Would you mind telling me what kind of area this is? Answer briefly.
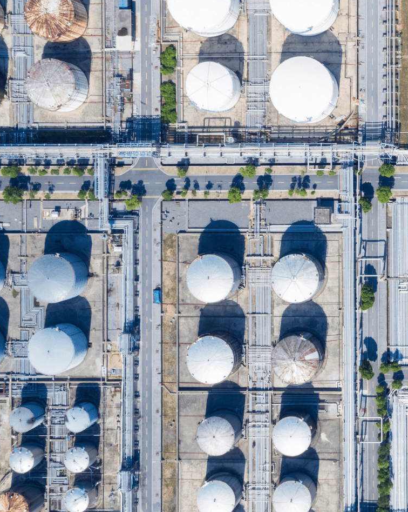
industrial area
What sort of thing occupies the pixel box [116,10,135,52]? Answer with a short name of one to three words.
building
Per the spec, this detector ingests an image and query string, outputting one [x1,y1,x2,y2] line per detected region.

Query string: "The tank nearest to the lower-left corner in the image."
[0,480,45,512]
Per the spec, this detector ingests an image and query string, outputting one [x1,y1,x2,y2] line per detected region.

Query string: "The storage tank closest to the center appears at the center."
[186,251,244,303]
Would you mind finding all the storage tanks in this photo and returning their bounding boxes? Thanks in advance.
[196,470,245,512]
[167,0,242,39]
[196,409,244,456]
[26,320,90,374]
[273,470,318,512]
[0,480,45,512]
[7,401,46,433]
[186,251,244,303]
[272,409,318,456]
[271,251,326,302]
[23,0,89,45]
[270,0,342,39]
[63,480,99,512]
[272,330,326,383]
[269,57,342,126]
[26,250,91,303]
[184,61,242,114]
[24,59,90,115]
[64,440,99,473]
[64,402,100,433]
[8,440,45,473]
[186,330,244,384]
